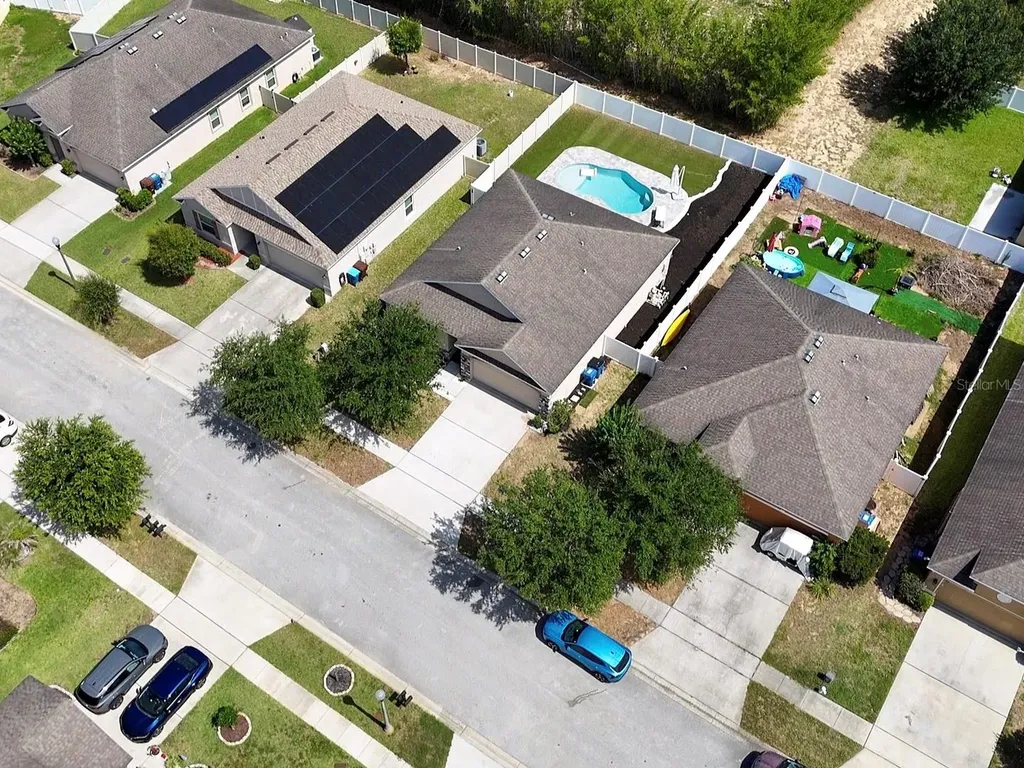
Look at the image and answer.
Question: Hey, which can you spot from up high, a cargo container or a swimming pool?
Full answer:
This aerial view contains a swimming pool.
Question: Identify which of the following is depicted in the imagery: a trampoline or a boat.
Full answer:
Visible in the photo is a boat.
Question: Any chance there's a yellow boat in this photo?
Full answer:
Yes, I can see a yellow boat in this picture.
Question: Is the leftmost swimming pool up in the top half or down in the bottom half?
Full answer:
Seen from above, the leftmost swimming pool lies in the top half of the view.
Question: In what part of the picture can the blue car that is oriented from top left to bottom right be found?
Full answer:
You can find the blue car that is oriented from top left to bottom right in the bottom area of the picture.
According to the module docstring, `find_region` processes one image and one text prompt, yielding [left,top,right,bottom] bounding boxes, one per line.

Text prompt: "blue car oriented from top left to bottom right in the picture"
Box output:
[543,611,635,685]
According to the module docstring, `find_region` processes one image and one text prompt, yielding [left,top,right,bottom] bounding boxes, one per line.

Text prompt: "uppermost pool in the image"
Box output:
[554,161,657,216]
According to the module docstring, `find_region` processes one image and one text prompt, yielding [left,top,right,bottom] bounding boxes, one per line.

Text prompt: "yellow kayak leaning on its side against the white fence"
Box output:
[663,308,691,344]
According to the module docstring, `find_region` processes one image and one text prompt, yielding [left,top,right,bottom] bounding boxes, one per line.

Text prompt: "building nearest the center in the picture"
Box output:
[378,169,679,417]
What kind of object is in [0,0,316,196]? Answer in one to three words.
house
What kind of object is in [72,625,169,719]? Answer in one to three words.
car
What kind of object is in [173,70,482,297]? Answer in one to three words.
house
